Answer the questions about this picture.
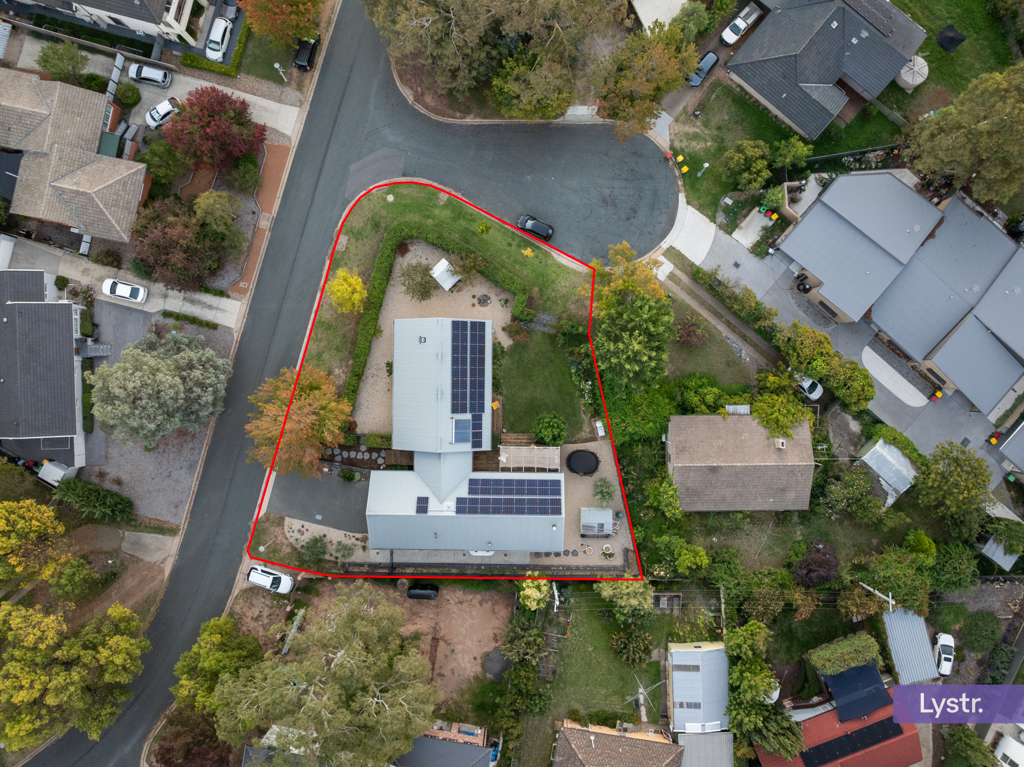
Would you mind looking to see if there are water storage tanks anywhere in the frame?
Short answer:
Yes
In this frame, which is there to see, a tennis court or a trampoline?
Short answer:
trampoline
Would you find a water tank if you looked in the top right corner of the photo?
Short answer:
Yes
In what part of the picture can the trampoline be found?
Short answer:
center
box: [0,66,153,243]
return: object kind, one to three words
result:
house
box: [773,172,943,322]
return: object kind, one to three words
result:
house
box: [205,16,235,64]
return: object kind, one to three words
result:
car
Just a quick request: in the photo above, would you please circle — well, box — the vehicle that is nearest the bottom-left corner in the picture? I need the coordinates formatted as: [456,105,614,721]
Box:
[244,564,296,596]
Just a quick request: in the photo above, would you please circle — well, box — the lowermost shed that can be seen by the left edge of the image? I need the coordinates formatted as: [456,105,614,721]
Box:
[38,459,76,486]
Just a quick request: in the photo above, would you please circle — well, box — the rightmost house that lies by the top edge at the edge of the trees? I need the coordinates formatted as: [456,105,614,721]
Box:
[725,0,935,142]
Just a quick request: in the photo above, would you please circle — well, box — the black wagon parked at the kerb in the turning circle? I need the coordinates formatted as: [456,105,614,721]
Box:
[515,213,557,243]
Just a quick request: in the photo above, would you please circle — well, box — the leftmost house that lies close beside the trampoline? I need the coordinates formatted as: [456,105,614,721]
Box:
[366,317,565,552]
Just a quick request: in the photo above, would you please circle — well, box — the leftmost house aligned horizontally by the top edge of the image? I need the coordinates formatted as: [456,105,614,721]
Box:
[65,0,213,63]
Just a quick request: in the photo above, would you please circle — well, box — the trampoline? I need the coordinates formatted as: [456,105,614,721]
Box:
[566,449,601,478]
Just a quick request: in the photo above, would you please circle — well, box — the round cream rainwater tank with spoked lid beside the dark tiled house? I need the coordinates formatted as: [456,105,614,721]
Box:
[888,57,928,96]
